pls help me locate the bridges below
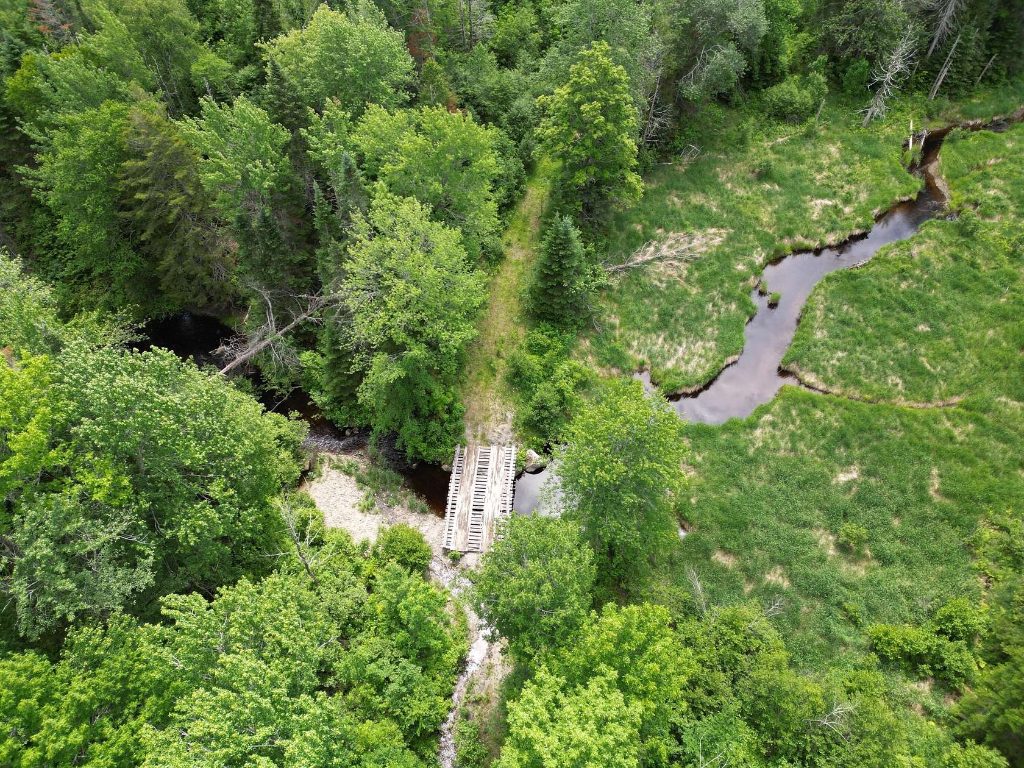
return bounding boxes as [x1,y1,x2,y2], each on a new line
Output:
[439,443,518,559]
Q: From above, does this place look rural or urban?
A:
rural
